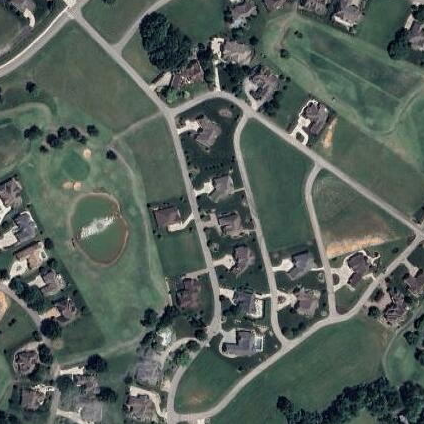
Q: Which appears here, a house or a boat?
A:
house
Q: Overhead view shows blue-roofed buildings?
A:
No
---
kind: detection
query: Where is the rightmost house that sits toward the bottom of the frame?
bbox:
[404,267,424,296]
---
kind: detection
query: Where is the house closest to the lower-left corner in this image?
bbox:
[16,385,43,408]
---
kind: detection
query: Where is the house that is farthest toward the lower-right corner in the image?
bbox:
[378,289,415,322]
